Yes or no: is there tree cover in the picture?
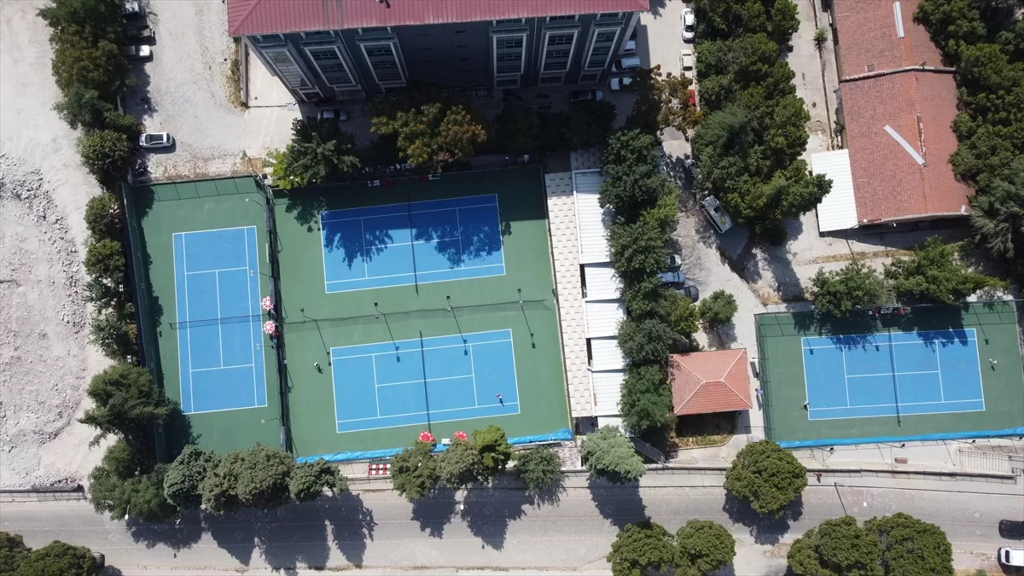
Yes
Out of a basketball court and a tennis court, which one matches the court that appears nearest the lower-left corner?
tennis court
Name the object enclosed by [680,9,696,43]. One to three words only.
car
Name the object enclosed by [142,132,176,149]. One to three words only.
car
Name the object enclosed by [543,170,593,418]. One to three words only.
building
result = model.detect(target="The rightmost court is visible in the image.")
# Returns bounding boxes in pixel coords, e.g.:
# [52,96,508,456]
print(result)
[755,301,1024,443]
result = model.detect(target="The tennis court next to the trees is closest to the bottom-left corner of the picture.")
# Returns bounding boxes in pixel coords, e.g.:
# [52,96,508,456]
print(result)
[134,177,292,464]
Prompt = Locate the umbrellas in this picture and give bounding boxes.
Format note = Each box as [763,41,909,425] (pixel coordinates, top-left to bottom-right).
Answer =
[419,430,434,445]
[262,297,275,309]
[265,321,278,333]
[454,429,468,438]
